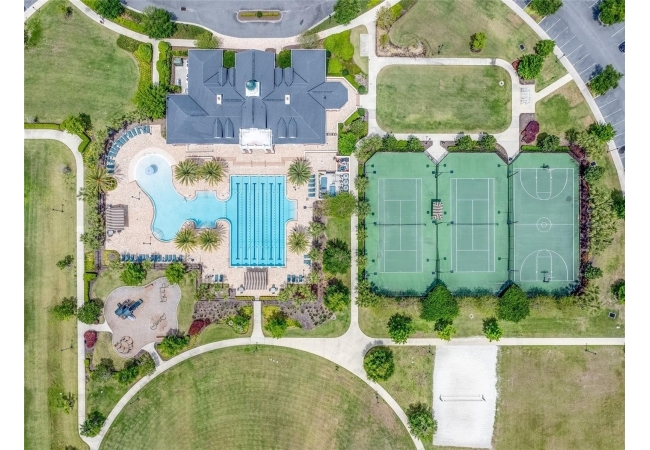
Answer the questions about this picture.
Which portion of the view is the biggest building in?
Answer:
top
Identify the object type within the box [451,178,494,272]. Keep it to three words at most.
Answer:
tennis court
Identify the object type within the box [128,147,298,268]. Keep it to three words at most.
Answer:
swimming pool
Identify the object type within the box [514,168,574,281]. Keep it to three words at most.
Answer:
basketball court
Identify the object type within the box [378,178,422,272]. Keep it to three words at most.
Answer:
tennis court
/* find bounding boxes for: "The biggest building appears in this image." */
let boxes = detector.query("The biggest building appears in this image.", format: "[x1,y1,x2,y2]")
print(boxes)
[166,46,348,152]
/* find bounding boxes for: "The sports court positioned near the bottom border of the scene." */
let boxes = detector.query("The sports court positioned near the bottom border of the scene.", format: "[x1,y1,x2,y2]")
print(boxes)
[433,345,498,448]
